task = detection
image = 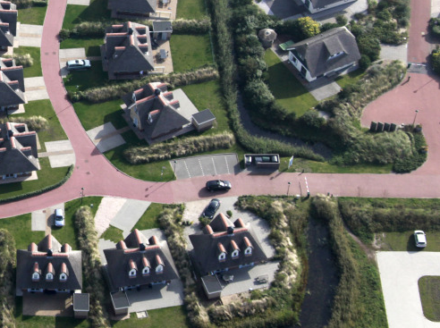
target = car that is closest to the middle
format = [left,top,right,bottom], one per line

[205,179,230,192]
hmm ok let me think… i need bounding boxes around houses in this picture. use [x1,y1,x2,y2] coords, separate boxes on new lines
[108,0,157,17]
[287,27,358,83]
[100,21,155,75]
[17,234,84,294]
[191,212,267,276]
[300,0,340,15]
[0,58,28,111]
[103,228,179,292]
[0,0,22,51]
[0,122,41,179]
[122,82,192,141]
